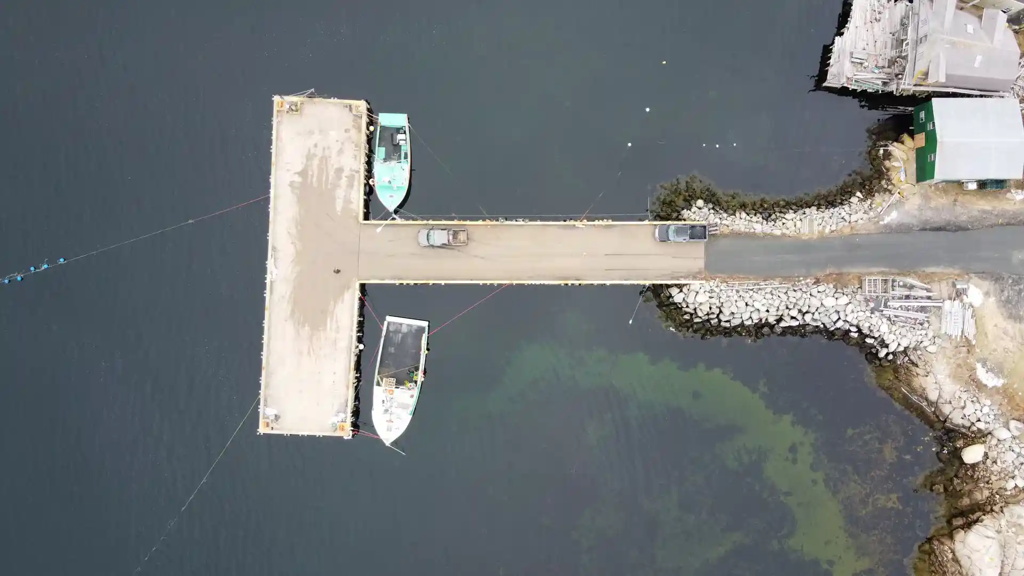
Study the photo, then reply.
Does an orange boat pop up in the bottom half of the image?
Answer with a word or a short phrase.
No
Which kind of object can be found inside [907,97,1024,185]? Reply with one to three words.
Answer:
building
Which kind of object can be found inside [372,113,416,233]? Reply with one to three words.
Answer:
boat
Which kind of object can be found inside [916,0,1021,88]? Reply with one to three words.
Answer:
building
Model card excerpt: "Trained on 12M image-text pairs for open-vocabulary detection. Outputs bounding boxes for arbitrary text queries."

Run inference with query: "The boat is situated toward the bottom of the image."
[372,317,429,455]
